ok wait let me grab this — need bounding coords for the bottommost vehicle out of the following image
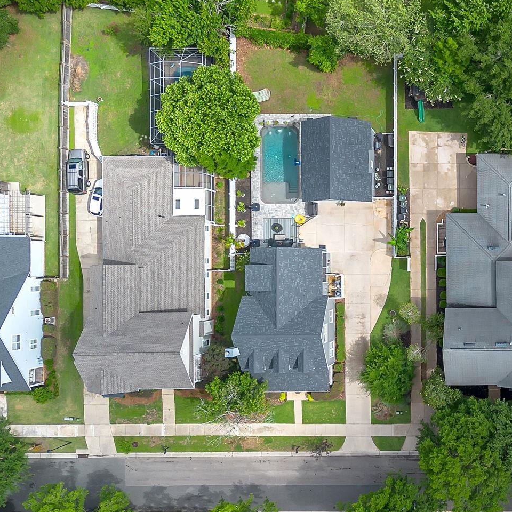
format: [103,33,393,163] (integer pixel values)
[84,174,102,215]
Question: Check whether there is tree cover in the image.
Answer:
Yes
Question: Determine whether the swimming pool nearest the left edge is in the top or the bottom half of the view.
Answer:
top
